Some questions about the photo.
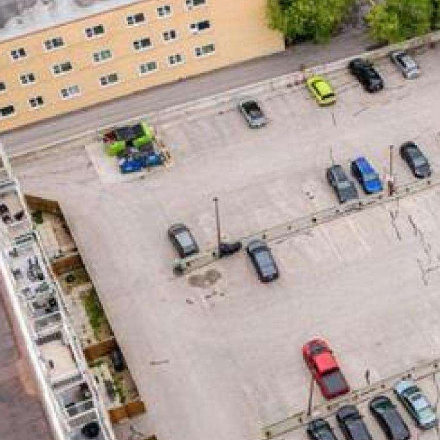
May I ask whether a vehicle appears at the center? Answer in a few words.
Yes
